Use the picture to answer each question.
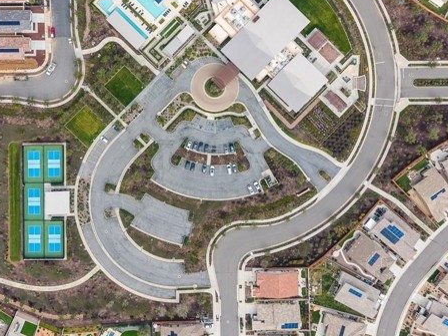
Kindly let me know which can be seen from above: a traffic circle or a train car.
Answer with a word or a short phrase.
traffic circle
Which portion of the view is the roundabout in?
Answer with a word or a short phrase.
top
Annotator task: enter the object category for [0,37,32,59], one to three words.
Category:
house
